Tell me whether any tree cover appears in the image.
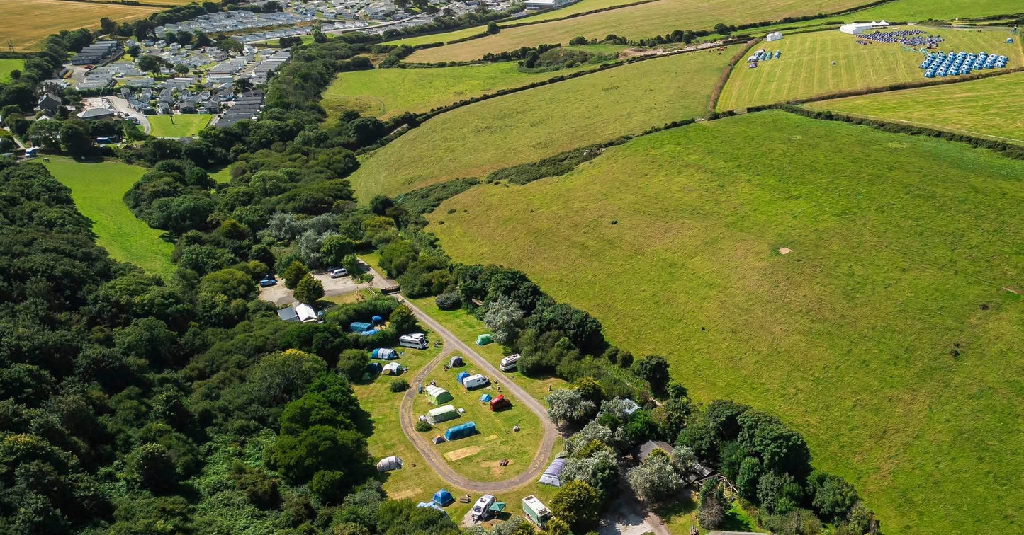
Yes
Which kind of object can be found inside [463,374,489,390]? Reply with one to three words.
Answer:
vehicle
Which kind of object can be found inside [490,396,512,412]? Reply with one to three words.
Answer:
vehicle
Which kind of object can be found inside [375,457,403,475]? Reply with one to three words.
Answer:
tent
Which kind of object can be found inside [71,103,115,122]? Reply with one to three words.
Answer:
house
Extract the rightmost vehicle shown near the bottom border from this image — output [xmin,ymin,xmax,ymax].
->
[523,491,548,530]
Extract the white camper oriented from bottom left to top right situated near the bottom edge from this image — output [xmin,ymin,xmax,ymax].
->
[471,494,494,526]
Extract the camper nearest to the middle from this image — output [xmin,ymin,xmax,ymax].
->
[496,352,523,375]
